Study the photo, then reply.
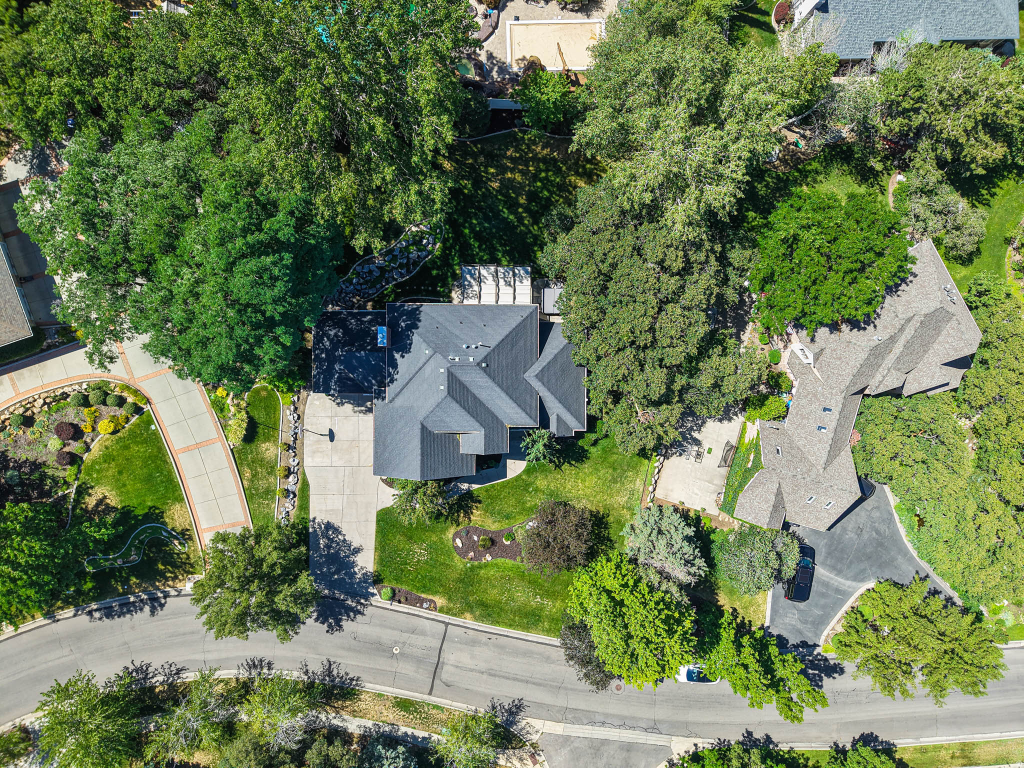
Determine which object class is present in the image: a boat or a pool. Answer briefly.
pool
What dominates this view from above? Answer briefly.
trees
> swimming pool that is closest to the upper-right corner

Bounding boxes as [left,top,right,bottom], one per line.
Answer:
[506,17,606,70]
